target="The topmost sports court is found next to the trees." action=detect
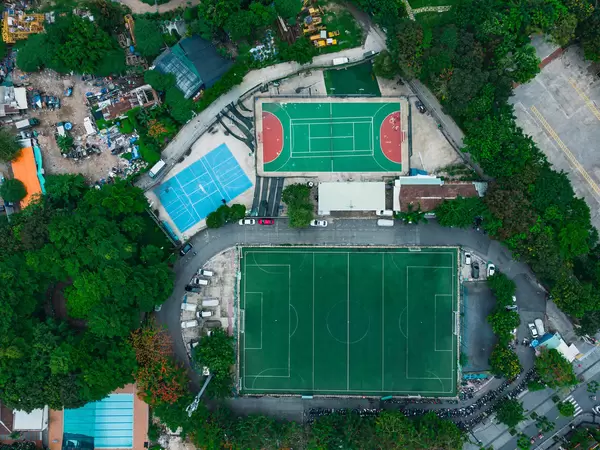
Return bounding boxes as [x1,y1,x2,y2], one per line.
[324,58,381,96]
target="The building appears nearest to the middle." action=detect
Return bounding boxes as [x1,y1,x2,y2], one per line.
[318,182,385,214]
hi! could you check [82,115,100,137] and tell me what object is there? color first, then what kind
white vehicle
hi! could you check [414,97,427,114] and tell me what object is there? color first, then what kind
black vehicle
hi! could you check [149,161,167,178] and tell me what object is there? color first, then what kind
white vehicle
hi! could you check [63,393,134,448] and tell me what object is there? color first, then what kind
blue swimming pool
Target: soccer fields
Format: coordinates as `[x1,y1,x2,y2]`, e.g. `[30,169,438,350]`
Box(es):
[238,247,459,397]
